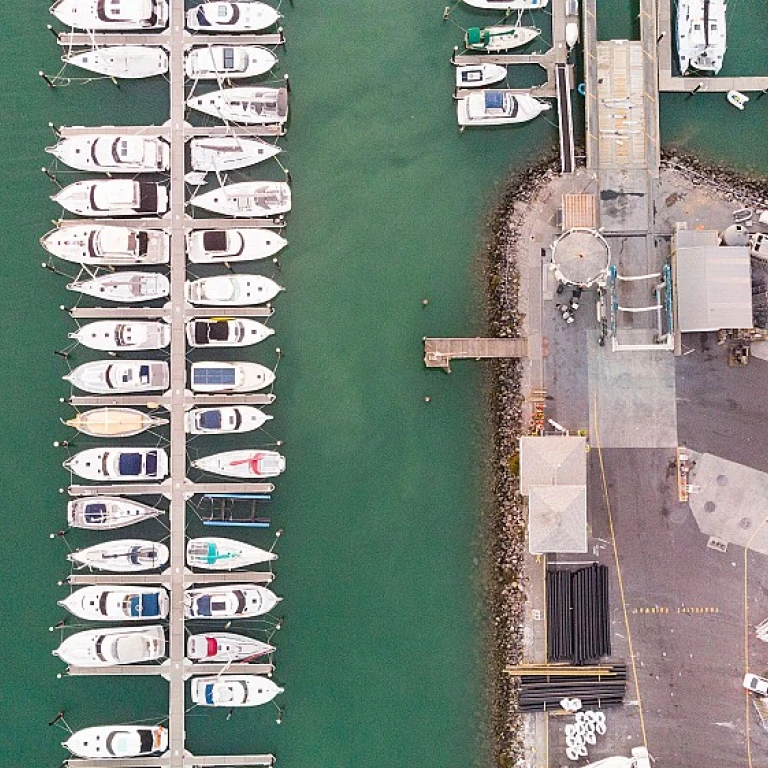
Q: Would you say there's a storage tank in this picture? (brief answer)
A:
Yes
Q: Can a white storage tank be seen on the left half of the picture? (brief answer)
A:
No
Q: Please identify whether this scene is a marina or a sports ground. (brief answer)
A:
marina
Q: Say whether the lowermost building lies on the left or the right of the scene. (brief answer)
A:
right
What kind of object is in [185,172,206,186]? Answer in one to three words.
boat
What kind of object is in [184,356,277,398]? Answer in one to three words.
boat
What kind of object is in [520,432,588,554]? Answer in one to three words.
building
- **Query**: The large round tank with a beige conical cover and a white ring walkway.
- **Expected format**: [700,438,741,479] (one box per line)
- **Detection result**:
[550,227,610,287]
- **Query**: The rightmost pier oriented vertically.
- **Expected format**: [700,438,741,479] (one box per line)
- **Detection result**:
[639,0,662,169]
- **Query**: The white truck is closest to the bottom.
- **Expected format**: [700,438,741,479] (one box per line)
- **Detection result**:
[629,742,655,768]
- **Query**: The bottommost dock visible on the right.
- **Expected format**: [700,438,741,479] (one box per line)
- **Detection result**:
[422,336,530,374]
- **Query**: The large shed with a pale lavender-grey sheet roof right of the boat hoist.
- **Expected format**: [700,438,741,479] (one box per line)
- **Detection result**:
[664,230,753,332]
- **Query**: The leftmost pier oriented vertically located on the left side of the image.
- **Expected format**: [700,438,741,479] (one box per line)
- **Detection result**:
[52,0,290,768]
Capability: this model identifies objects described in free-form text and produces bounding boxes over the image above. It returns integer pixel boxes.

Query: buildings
[664,230,753,332]
[520,432,588,554]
